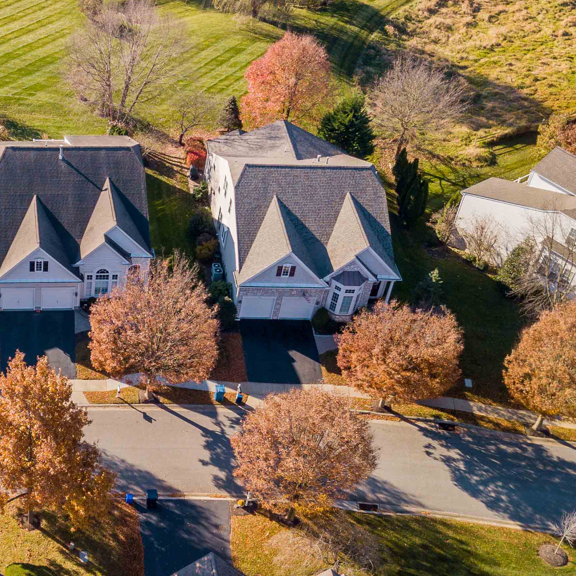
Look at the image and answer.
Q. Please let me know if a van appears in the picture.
No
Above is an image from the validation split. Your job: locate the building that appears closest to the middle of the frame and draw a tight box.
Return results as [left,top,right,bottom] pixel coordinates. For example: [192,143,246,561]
[206,116,398,319]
